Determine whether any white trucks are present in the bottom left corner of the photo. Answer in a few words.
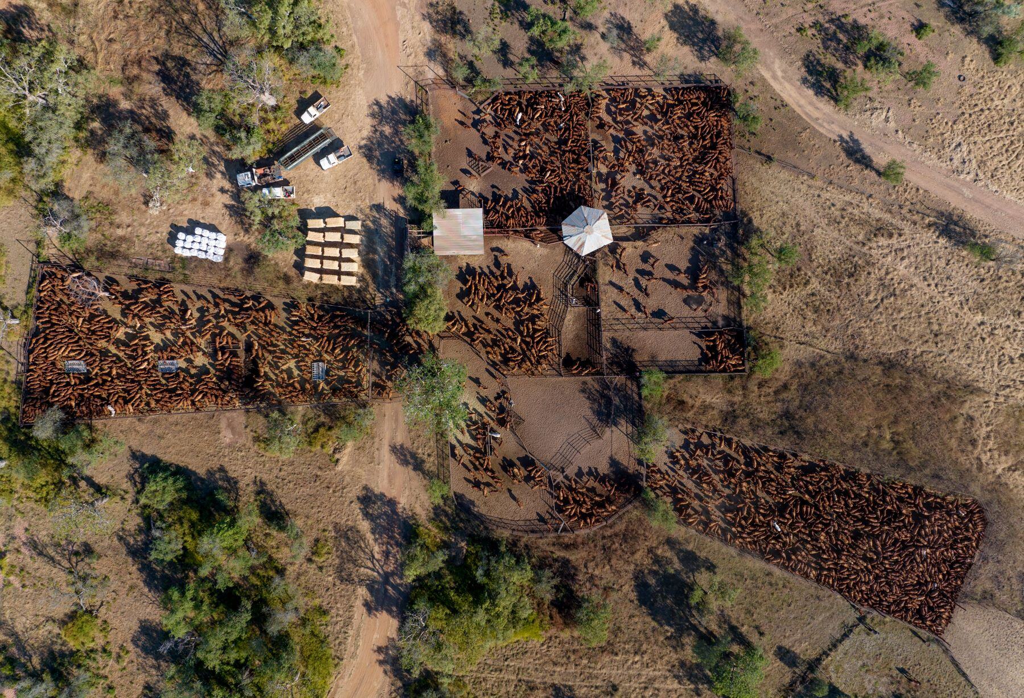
No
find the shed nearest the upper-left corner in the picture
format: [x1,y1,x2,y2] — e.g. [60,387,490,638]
[434,208,484,257]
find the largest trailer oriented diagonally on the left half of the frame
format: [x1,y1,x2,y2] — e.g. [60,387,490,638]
[277,120,343,177]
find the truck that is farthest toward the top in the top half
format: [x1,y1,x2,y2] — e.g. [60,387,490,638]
[300,94,332,123]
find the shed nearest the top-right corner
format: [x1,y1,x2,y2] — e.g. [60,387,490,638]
[561,205,613,258]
